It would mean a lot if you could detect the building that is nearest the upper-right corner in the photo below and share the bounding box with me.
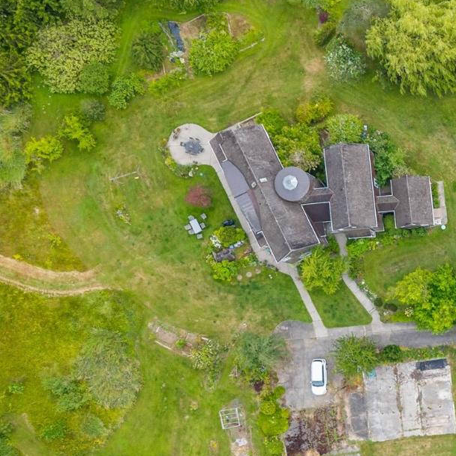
[209,114,435,263]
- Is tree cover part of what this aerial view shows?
Yes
